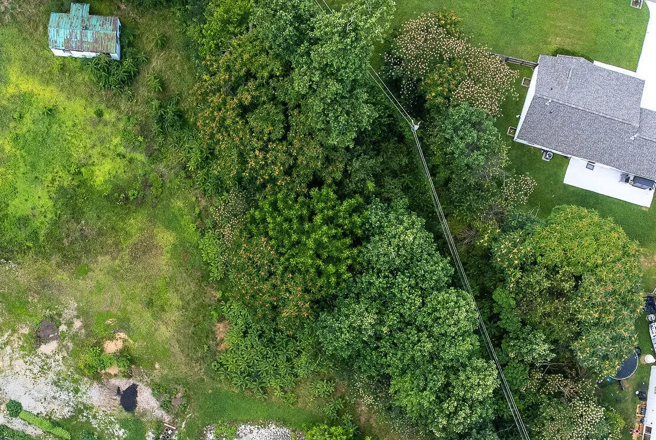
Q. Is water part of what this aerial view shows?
No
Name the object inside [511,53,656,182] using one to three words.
house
